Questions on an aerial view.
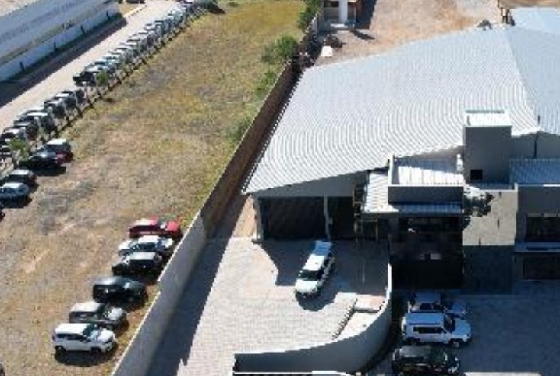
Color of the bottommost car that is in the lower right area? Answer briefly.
black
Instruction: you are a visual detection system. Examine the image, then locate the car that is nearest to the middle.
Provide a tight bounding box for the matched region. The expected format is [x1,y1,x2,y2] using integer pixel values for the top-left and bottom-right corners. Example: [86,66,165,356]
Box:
[293,239,338,290]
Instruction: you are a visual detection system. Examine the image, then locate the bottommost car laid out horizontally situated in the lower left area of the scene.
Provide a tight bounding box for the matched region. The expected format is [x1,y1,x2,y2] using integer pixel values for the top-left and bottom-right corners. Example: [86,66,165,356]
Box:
[45,320,123,356]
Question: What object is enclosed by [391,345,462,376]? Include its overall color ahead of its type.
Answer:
black car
